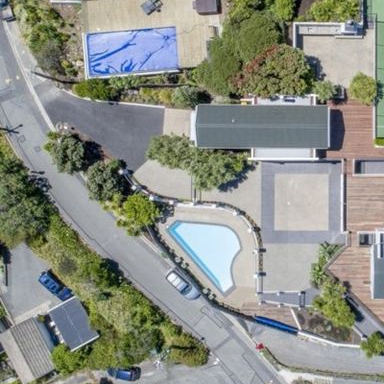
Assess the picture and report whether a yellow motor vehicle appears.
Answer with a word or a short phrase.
No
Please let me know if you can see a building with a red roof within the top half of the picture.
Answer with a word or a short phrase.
No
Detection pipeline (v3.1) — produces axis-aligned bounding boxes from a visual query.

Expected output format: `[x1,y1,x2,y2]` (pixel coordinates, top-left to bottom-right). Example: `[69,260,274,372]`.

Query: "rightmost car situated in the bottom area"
[164,265,202,301]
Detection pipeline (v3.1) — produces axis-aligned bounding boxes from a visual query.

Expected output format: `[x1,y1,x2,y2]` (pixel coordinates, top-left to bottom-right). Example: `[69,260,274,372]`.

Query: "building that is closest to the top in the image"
[195,92,330,160]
